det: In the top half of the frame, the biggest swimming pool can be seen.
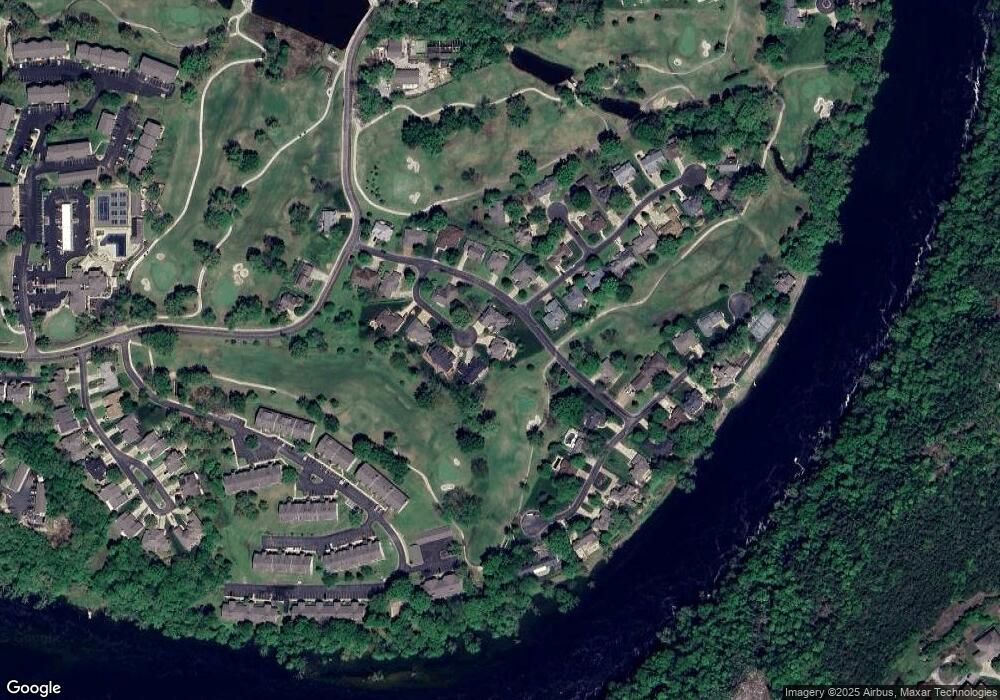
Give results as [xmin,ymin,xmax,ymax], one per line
[97,231,130,259]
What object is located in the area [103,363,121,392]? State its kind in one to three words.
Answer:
house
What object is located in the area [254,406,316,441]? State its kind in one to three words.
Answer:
building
